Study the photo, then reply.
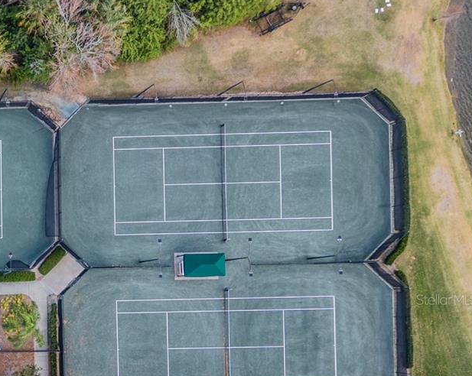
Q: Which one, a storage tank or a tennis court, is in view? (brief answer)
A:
tennis court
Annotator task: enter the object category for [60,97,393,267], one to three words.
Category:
tennis court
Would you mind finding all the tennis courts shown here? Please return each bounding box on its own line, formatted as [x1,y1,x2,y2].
[60,260,398,376]
[0,106,57,270]
[60,97,393,267]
